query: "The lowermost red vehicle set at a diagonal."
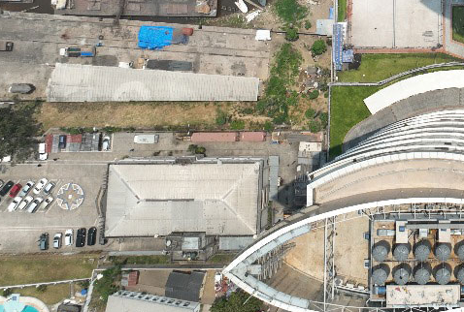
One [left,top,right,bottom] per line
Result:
[8,182,24,198]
